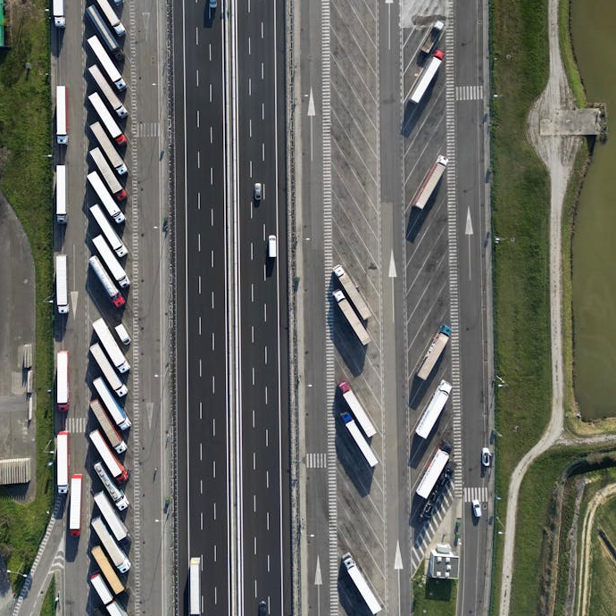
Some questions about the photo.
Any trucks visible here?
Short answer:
Yes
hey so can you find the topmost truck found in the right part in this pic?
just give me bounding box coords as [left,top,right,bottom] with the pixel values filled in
[420,22,446,58]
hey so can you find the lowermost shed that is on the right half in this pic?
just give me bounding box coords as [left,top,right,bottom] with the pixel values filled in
[431,546,459,579]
